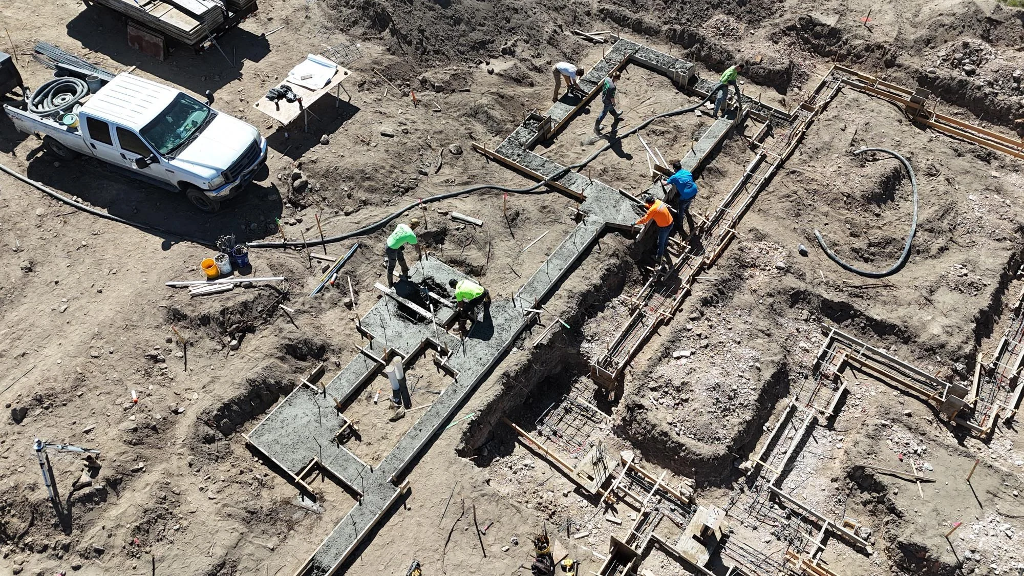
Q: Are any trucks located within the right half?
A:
No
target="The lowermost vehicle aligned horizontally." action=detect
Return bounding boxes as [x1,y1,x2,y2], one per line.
[5,63,271,203]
